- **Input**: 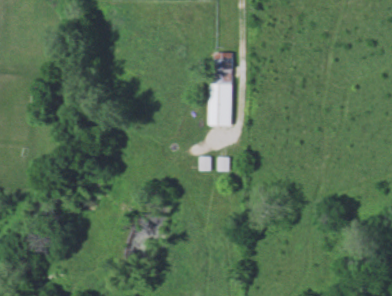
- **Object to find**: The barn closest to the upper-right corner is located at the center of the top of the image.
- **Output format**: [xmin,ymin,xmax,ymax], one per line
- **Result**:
[214,52,233,82]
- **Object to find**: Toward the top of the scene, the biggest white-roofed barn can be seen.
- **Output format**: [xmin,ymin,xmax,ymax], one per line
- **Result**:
[207,83,232,127]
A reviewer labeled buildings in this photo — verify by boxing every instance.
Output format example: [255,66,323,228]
[198,156,212,172]
[214,52,233,82]
[216,156,230,172]
[128,220,160,254]
[207,83,232,127]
